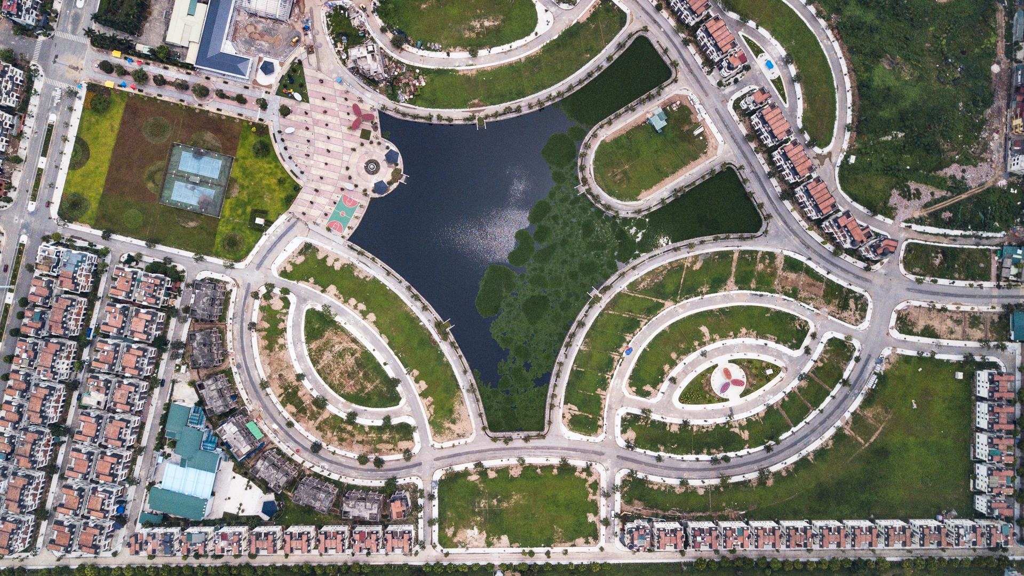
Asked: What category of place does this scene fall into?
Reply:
residential area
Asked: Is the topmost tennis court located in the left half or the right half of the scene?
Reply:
left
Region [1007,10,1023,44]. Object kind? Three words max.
shed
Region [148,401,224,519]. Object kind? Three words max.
building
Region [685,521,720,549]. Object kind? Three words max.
house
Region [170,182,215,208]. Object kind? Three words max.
tennis court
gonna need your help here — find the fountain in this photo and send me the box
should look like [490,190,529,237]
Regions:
[363,158,380,174]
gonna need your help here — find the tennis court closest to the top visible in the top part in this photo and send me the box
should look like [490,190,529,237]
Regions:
[178,151,222,179]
